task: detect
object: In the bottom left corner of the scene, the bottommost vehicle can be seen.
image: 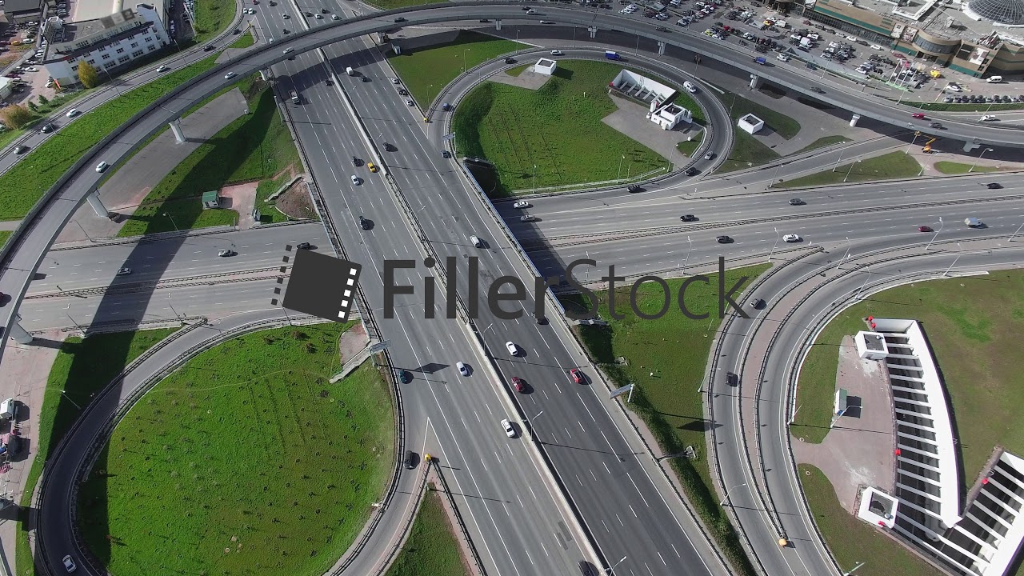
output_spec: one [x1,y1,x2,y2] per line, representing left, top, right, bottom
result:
[60,552,79,574]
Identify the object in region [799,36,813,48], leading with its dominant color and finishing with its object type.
white vehicle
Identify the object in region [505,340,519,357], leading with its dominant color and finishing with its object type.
white car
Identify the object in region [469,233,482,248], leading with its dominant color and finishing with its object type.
white vehicle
